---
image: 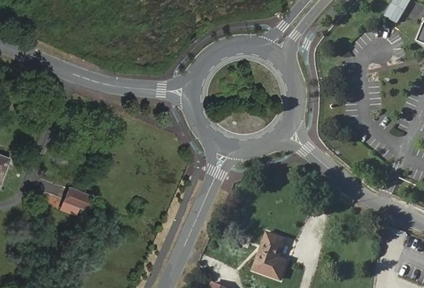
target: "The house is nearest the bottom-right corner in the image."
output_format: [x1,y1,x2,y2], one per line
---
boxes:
[252,230,296,284]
